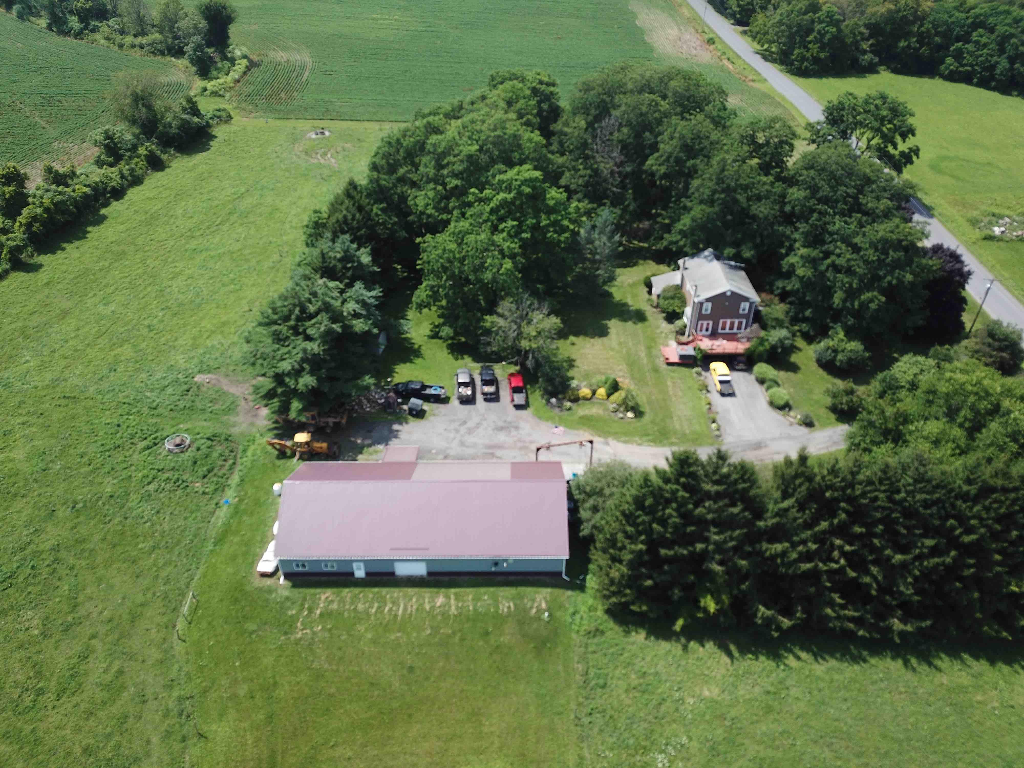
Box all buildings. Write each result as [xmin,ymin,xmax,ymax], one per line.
[273,446,570,584]
[648,246,759,352]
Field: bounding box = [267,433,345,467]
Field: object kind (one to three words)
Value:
work vehicle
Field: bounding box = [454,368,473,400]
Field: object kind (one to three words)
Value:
vehicle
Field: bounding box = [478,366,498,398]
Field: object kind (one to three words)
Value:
vehicle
